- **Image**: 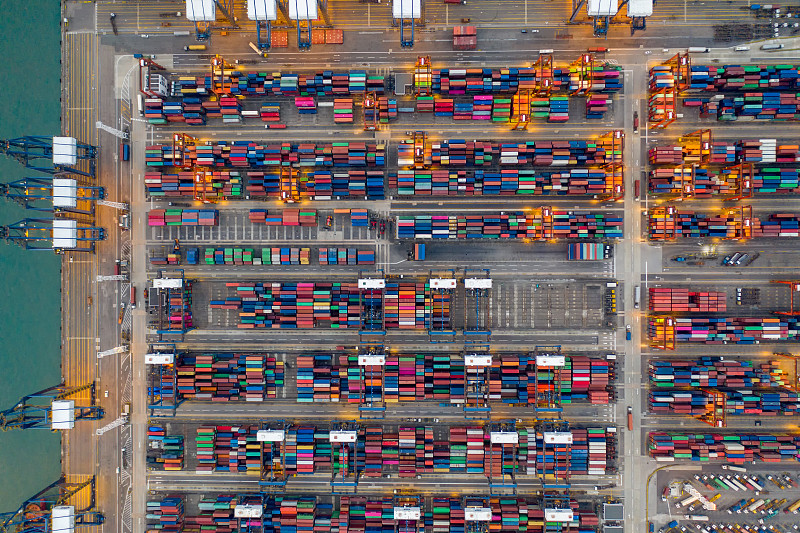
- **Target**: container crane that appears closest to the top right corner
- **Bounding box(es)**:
[660,51,690,95]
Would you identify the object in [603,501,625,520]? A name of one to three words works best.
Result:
building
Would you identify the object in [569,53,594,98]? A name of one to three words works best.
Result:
container crane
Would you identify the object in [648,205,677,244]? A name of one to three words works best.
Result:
container crane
